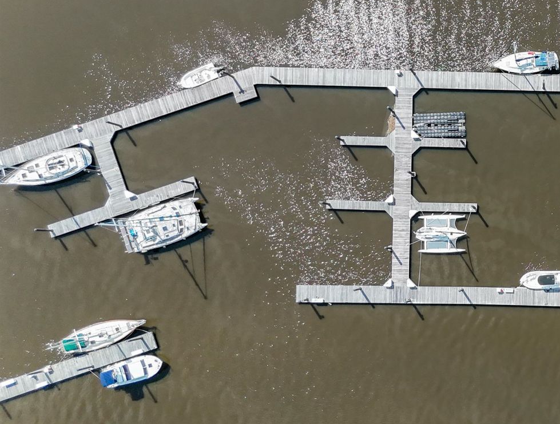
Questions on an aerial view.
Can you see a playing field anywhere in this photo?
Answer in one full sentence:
No, I can see no playing field in this picture.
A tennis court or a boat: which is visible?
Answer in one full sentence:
It is a boat that can be seen here.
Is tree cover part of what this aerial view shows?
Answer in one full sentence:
No, there's no tree cover in this view.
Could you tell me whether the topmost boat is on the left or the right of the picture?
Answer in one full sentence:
You can find the topmost boat on the right side of the picture.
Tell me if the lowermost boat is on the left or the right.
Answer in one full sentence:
The lowermost boat sits on the left side.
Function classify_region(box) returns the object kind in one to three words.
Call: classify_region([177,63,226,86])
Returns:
boat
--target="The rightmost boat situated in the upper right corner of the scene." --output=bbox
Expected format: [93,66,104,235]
[493,42,560,73]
